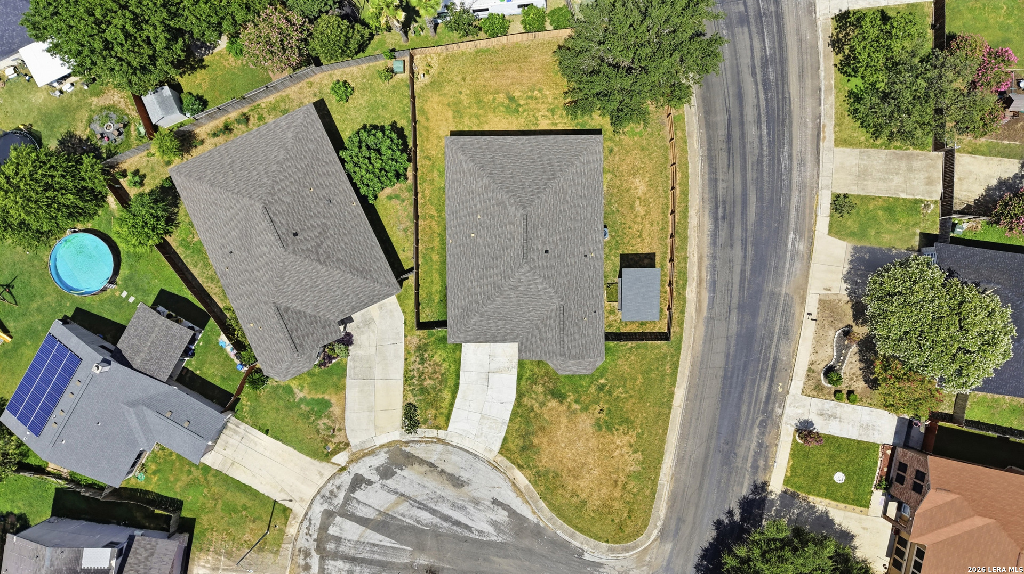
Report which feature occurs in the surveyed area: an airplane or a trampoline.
trampoline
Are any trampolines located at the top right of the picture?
No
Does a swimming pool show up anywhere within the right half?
No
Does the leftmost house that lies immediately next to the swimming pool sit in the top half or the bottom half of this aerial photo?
bottom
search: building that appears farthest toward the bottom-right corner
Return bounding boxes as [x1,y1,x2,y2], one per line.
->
[882,448,1024,574]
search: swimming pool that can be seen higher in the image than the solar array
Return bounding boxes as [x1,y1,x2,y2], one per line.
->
[51,231,122,295]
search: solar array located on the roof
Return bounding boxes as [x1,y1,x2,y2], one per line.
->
[5,332,81,437]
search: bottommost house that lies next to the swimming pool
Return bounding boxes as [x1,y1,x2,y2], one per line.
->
[0,318,234,488]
